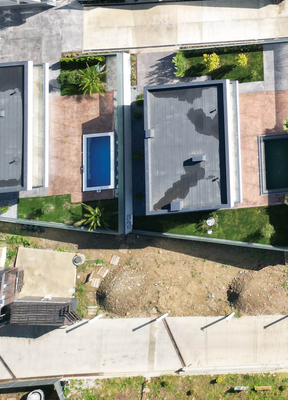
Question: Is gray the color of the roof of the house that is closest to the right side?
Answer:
Yes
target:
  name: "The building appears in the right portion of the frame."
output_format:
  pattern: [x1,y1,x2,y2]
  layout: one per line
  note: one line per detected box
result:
[143,80,242,215]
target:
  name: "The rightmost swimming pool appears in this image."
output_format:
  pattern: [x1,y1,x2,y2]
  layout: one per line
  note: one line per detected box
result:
[257,134,288,196]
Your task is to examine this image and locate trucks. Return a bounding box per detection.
[25,377,57,400]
